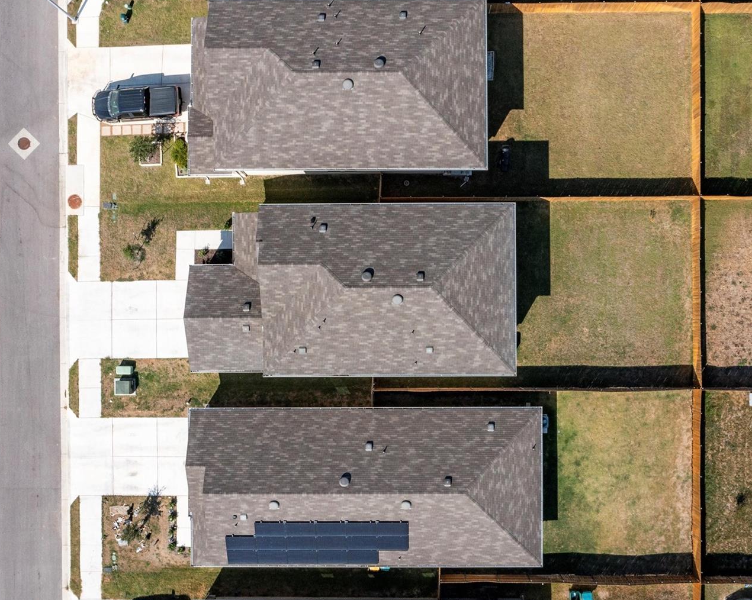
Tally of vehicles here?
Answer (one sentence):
The picture shows just 1 vehicle.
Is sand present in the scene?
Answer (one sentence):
No, the scene doesn't show any sand.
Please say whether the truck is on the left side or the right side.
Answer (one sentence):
It is on the left.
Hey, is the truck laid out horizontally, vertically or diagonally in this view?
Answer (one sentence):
What the image shows is the truck lying horizontally.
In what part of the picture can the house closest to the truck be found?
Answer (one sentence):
The house closest to the truck sits in the top section of the image.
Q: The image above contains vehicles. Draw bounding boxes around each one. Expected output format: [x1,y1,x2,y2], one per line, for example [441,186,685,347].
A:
[88,83,186,124]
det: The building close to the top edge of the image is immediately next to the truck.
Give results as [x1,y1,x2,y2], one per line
[185,0,487,194]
